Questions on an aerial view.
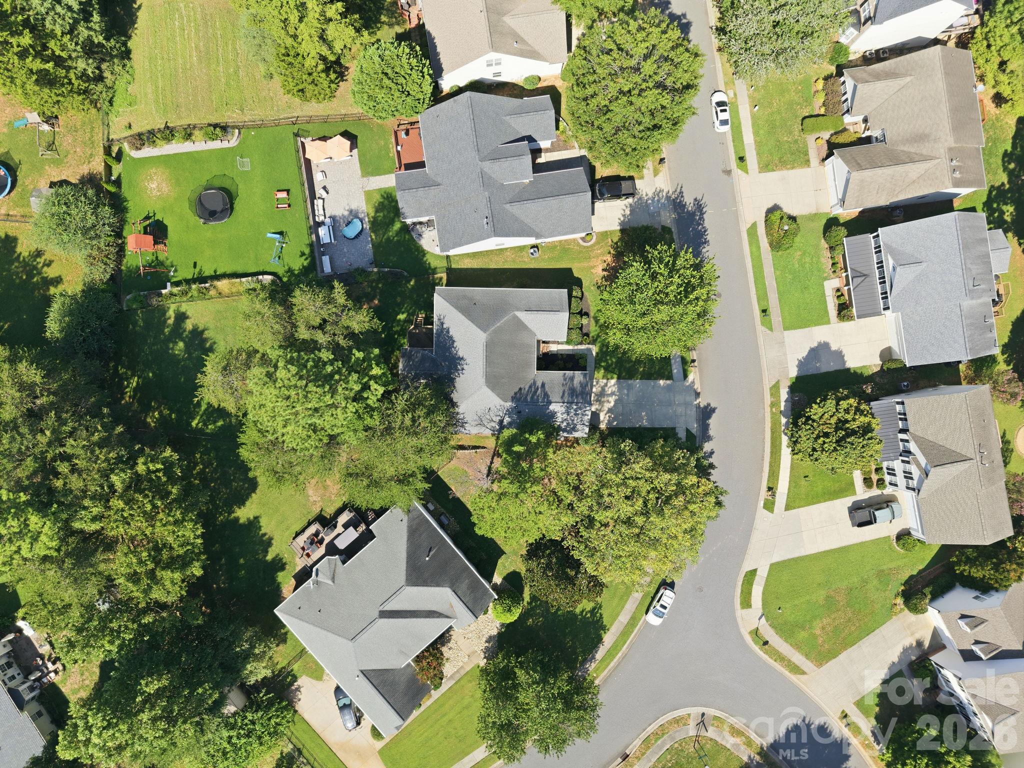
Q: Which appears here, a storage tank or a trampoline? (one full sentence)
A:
Visible in the photo is a trampoline.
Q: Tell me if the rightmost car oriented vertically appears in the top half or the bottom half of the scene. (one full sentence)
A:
You can find the rightmost car oriented vertically in the top half.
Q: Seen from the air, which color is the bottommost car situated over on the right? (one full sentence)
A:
The bottommost car situated over on the right is white.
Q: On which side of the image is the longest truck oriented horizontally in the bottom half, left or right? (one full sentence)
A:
You can find the longest truck oriented horizontally in the bottom half on the right side of the picture.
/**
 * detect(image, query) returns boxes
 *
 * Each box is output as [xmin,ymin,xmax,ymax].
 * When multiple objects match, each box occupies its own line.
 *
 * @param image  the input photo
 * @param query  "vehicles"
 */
[709,91,730,133]
[847,500,902,526]
[589,176,641,199]
[748,491,910,569]
[646,584,676,627]
[591,171,667,232]
[331,686,359,733]
[286,676,384,768]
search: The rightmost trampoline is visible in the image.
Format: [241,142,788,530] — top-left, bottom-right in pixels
[188,183,233,225]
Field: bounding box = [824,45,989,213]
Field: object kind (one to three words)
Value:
house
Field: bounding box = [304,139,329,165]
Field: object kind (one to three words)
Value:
umbrella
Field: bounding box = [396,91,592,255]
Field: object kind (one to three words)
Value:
house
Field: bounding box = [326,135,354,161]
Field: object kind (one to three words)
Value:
umbrella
